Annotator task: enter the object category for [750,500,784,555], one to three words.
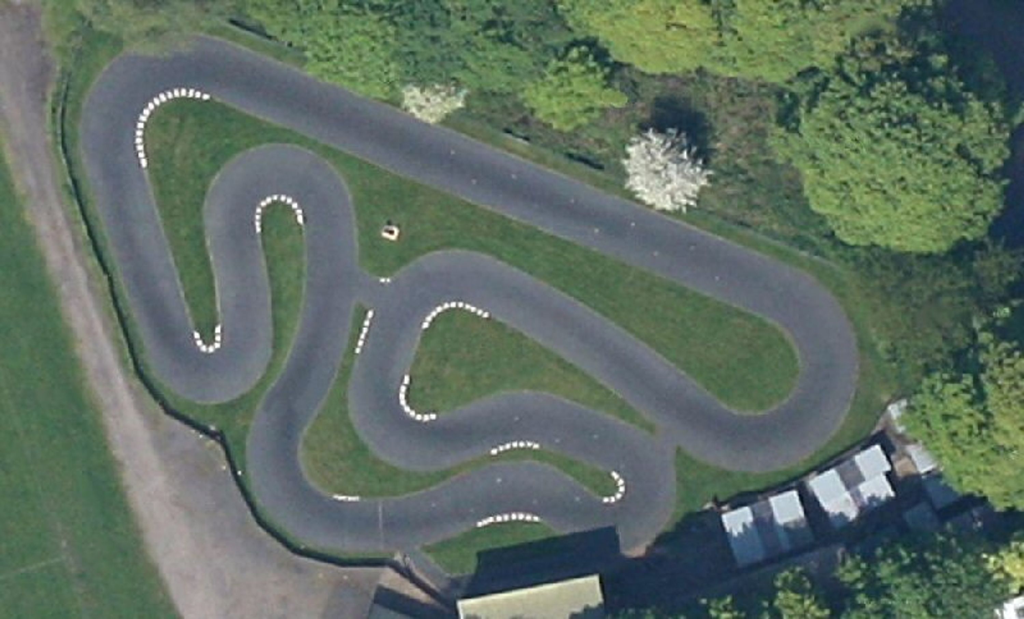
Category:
shed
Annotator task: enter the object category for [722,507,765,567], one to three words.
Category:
shed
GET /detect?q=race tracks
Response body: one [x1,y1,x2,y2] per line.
[81,32,860,611]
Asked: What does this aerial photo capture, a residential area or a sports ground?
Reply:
sports ground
